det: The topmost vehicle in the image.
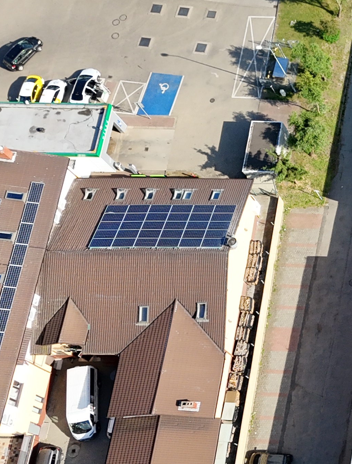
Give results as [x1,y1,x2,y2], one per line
[0,36,44,74]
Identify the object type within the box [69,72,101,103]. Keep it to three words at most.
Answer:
car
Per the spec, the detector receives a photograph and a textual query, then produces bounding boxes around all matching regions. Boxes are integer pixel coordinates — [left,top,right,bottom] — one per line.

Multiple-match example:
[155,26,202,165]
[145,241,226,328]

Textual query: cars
[69,72,101,103]
[0,36,44,74]
[102,390,123,439]
[40,79,69,102]
[14,74,45,102]
[246,449,298,464]
[35,447,63,464]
